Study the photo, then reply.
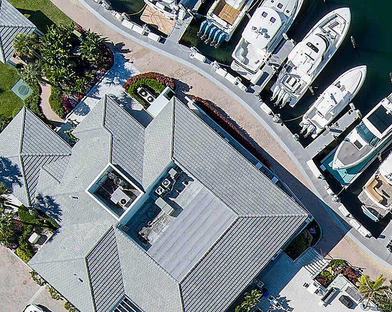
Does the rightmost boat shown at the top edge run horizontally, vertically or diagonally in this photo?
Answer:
diagonally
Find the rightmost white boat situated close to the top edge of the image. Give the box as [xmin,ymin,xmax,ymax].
[268,6,349,108]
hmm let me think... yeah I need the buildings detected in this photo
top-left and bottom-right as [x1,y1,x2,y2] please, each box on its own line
[0,0,47,66]
[0,93,319,312]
